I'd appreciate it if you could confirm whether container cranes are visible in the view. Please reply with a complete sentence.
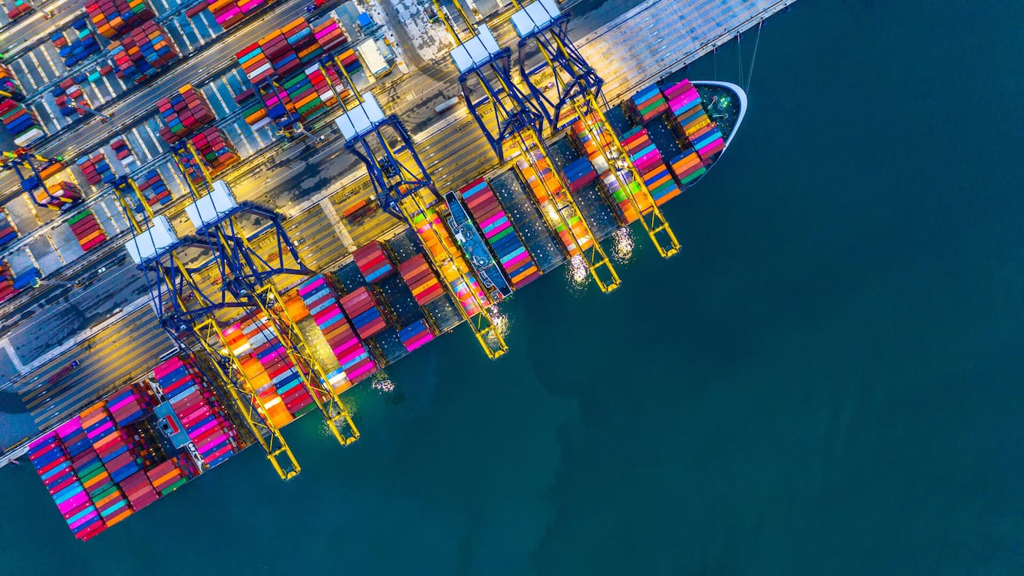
Yes, the frame does contain a container crane.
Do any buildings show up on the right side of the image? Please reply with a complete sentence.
No, there's no building to be seen on the right side of the image.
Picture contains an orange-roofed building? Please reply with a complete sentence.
No, this view has no orange-roofed building in it.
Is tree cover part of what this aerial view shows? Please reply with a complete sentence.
No, tree cover can't be seen anywhere here.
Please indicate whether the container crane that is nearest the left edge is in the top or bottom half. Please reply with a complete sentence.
The container crane that is nearest the left edge sits in the top half of the picture.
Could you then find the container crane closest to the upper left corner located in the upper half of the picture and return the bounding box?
[9,151,87,213]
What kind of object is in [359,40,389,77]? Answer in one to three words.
building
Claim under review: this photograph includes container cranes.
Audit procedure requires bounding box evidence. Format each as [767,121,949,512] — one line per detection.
[429,0,621,292]
[513,0,682,256]
[313,49,507,359]
[251,71,318,142]
[102,172,299,482]
[9,151,87,213]
[165,135,361,445]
